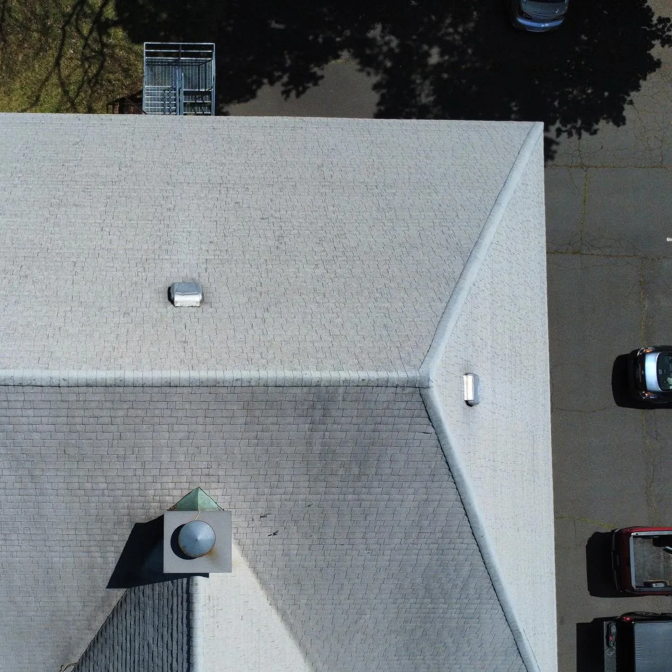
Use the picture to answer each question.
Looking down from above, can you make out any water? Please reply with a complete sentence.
No, no water is visible.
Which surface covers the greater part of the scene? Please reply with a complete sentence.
The scene is dominated by buildings.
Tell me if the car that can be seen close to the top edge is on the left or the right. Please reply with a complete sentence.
You can find the car that can be seen close to the top edge on the right side of the picture.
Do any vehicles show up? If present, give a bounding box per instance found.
[610,531,672,592]
[603,613,672,672]
[507,0,570,36]
[627,347,672,403]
